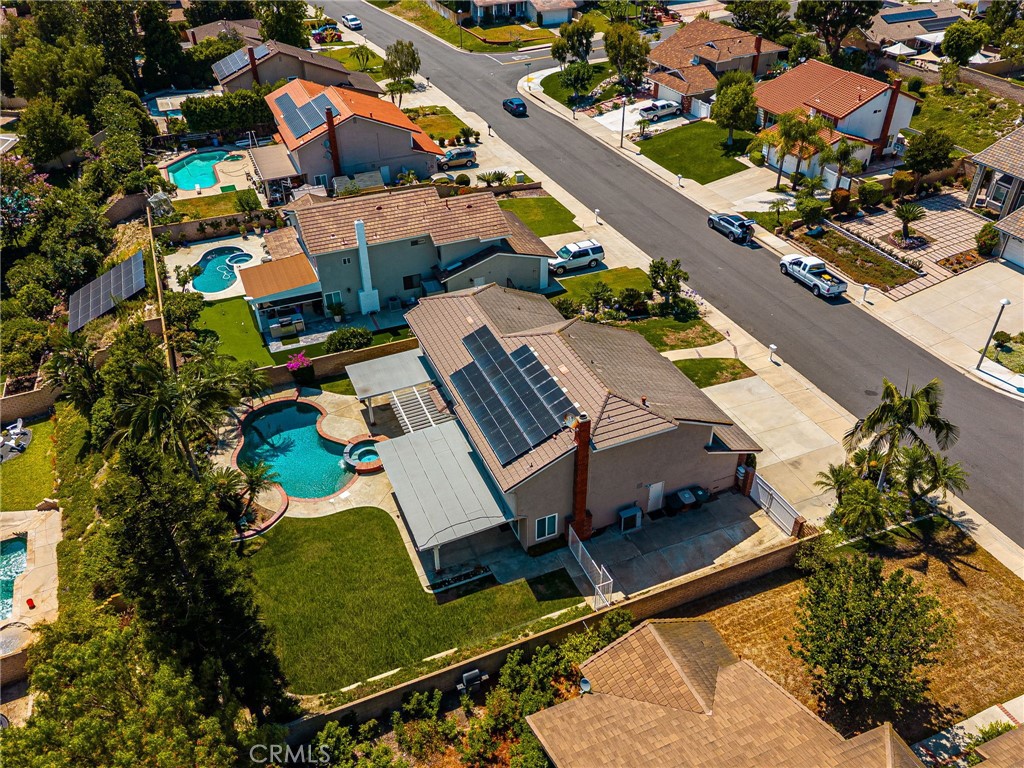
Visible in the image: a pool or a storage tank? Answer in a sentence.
This aerial view contains a pool.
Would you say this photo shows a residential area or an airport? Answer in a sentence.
What you see here is a residential area.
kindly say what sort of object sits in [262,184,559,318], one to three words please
house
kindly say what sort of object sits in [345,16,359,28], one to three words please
vehicle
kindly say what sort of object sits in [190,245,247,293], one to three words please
swimming pool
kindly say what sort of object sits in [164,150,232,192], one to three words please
swimming pool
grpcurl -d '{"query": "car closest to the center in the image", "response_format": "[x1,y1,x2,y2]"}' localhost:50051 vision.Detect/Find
[549,236,608,271]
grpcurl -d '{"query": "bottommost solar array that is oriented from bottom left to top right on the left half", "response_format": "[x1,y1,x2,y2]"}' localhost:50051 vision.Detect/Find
[65,256,144,339]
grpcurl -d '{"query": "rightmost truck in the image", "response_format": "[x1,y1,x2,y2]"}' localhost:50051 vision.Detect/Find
[777,260,842,299]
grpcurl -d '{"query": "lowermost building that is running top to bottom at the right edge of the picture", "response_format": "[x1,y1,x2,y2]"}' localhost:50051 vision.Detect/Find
[963,124,1024,271]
